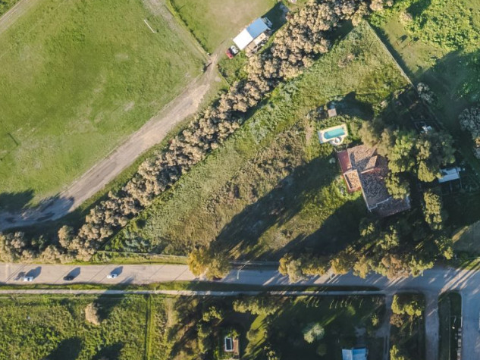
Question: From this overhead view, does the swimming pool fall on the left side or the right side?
right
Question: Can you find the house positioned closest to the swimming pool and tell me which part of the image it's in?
right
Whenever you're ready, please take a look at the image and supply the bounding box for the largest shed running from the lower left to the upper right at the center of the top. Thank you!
[234,18,270,49]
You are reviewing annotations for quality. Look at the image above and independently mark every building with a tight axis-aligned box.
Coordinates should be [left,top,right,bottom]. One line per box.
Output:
[234,18,270,49]
[343,347,370,360]
[438,166,461,182]
[337,142,410,217]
